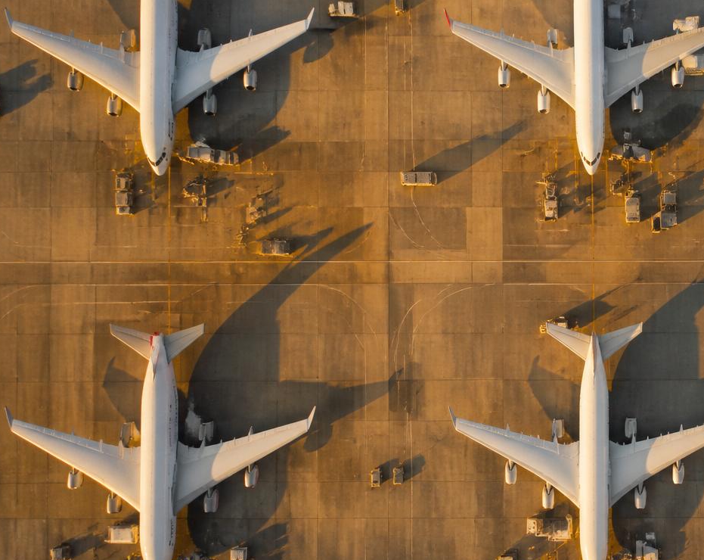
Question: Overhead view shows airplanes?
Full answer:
Yes, an airplane appears in the view.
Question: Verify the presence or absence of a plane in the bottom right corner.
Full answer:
Yes, I can see a plane in the bottom right corner.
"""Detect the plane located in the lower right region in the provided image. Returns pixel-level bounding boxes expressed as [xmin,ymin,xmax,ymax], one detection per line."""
[448,325,704,560]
